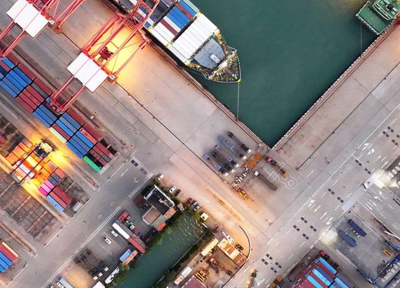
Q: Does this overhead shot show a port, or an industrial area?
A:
port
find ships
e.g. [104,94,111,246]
[116,0,241,82]
[355,0,400,37]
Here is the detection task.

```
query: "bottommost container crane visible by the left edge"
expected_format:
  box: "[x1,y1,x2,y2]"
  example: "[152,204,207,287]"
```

[8,138,56,186]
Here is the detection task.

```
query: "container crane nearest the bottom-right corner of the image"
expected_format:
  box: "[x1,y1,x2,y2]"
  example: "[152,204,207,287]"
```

[356,237,400,285]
